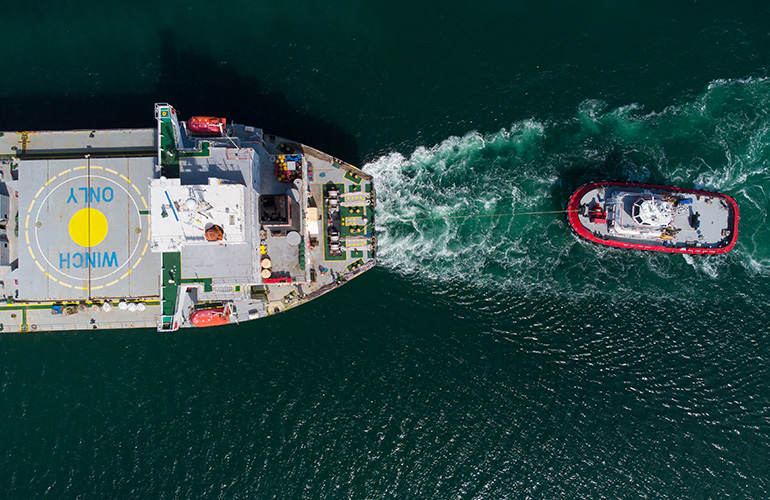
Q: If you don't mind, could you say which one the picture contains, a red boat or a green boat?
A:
red boat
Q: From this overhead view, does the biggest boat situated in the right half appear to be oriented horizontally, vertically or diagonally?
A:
horizontally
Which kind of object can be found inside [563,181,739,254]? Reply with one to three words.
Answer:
boat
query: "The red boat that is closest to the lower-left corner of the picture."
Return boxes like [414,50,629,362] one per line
[192,307,235,328]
